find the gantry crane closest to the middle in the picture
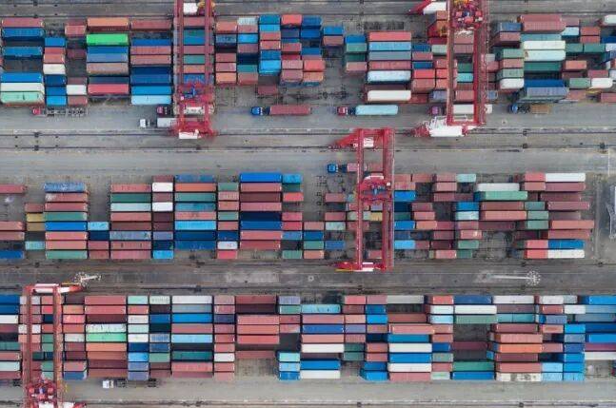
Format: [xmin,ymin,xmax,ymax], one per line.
[323,129,393,273]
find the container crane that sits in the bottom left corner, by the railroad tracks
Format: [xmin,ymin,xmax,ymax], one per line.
[21,281,87,408]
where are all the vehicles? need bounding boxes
[0,379,22,388]
[140,118,162,128]
[336,105,358,116]
[102,380,155,389]
[326,163,347,173]
[429,105,445,115]
[250,106,272,116]
[157,105,175,115]
[32,106,86,117]
[509,105,551,114]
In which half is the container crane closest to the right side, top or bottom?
top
